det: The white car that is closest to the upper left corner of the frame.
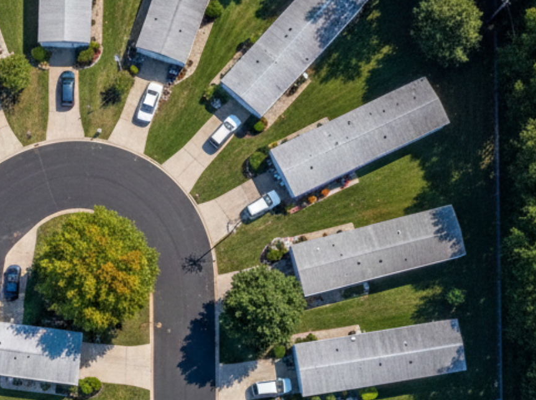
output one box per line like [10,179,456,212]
[139,83,162,122]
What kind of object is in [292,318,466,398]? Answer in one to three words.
house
